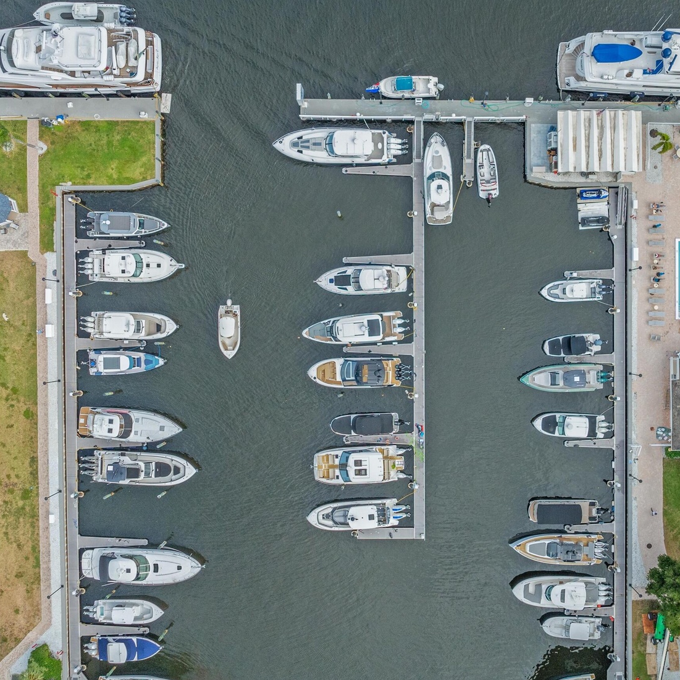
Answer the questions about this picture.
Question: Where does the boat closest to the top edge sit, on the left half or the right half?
left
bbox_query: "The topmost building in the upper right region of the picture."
[557,109,651,175]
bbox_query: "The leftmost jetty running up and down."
[65,195,151,680]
